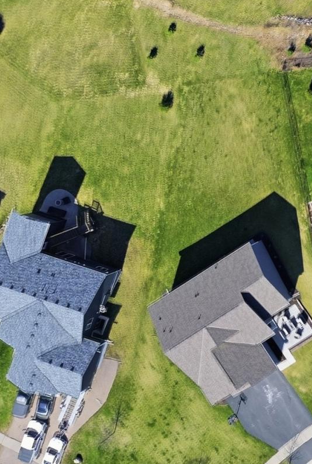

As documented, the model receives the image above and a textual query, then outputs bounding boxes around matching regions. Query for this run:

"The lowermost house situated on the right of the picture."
[148,242,298,406]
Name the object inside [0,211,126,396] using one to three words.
house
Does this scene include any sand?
No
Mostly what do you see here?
grass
